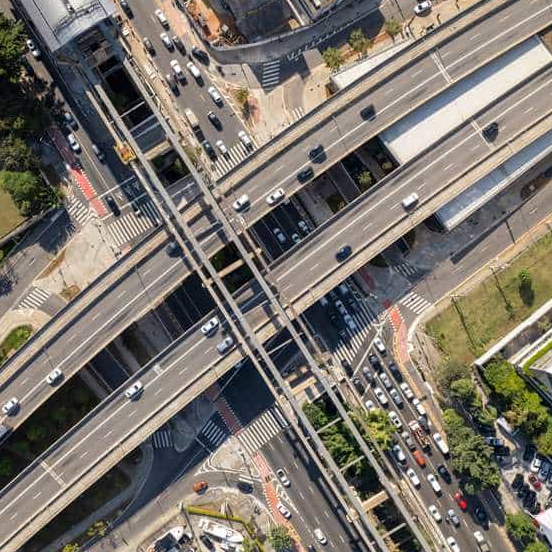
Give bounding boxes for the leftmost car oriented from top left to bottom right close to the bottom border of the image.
[200,533,214,551]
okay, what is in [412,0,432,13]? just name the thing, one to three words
vehicle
